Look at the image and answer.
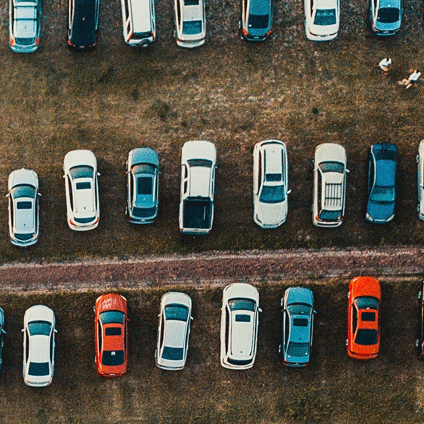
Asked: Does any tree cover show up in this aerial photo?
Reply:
No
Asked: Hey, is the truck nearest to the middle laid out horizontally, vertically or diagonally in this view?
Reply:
vertically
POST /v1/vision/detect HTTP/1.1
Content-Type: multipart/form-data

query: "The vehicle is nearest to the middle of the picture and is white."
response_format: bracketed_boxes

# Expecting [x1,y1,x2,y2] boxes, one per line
[177,140,223,236]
